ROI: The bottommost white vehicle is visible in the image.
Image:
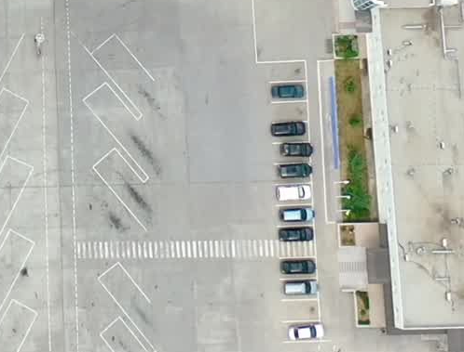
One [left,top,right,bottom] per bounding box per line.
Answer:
[287,323,323,340]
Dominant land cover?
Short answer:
paved ground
